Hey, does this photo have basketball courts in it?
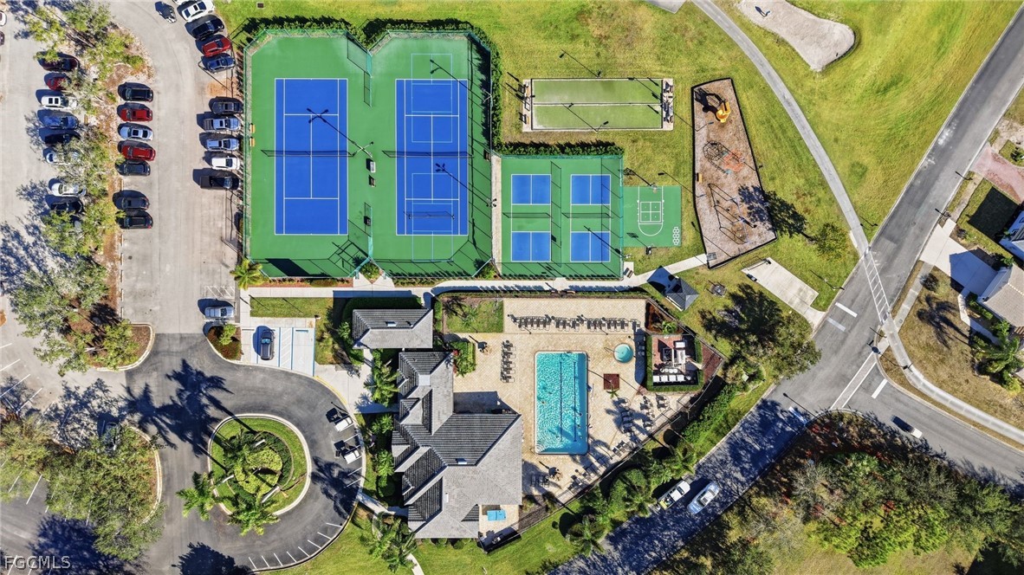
Yes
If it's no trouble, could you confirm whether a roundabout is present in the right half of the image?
No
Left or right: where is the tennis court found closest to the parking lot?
left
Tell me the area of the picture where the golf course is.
top right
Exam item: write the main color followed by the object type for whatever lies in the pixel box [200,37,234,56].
red car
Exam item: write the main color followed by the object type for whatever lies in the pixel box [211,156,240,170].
white car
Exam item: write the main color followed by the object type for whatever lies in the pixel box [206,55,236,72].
blue car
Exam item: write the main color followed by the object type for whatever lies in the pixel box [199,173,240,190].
black vehicle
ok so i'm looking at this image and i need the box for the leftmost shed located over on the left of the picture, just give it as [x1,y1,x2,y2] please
[352,309,433,349]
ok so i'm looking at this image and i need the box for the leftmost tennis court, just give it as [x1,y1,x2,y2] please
[251,37,371,277]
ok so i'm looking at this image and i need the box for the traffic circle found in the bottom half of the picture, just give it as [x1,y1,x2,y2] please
[207,413,312,526]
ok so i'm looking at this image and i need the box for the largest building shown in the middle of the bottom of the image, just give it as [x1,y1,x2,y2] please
[392,352,522,539]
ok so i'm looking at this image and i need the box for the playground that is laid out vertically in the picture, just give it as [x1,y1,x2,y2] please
[691,77,777,268]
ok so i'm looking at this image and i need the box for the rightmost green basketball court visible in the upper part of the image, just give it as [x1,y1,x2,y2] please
[623,186,682,247]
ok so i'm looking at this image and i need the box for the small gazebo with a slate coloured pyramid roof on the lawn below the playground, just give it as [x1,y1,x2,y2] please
[660,276,701,312]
